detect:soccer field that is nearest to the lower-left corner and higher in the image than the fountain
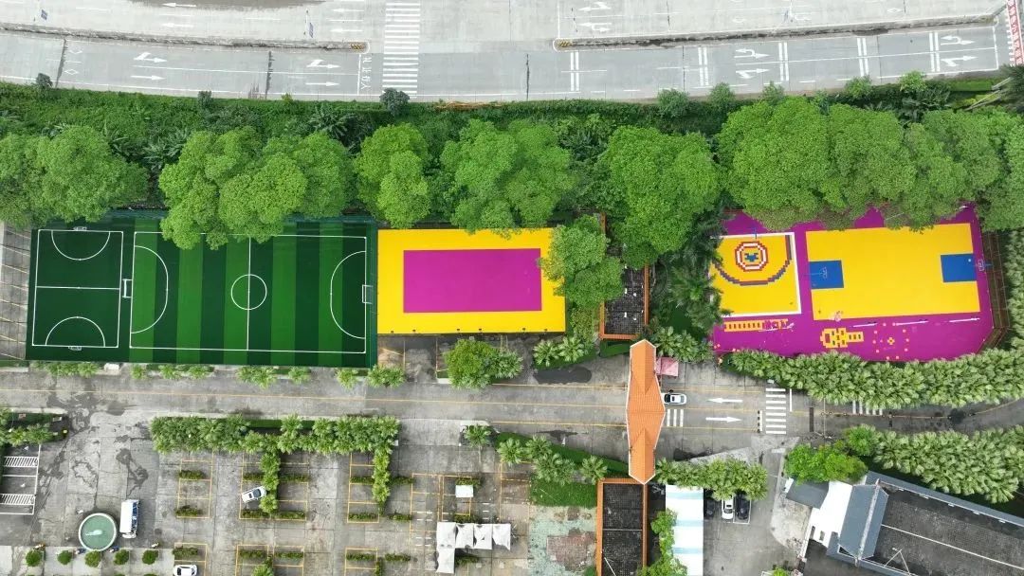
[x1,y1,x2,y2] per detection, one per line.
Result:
[26,221,133,362]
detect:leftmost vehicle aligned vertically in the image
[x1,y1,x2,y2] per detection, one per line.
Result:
[115,498,138,539]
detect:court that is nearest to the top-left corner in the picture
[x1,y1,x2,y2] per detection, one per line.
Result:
[378,227,567,335]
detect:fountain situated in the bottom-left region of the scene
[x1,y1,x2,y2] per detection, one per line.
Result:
[75,513,117,554]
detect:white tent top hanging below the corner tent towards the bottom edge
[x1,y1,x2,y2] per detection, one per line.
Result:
[436,548,456,574]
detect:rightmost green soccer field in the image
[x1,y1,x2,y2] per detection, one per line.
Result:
[129,221,378,367]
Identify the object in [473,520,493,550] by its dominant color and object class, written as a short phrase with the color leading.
white tent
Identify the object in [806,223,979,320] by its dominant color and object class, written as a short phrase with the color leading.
yellow basketball court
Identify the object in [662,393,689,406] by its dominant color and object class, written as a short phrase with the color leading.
white vehicle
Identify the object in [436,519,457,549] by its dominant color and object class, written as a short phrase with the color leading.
white tent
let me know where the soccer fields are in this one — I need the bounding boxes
[129,221,378,367]
[26,221,133,362]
